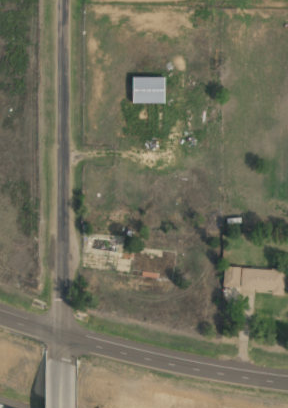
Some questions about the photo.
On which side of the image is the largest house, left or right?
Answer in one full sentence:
You can find the largest house on the right side of the picture.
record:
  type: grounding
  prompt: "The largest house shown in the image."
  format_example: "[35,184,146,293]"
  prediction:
[223,266,284,296]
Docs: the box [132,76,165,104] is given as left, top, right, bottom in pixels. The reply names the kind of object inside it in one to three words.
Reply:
barn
